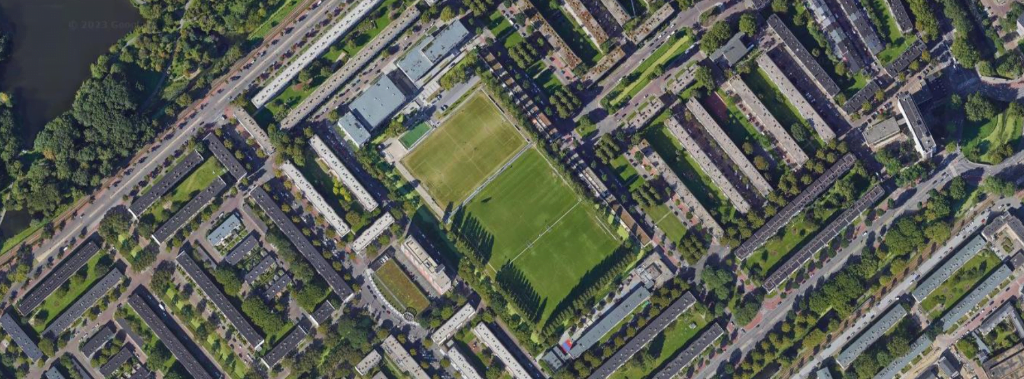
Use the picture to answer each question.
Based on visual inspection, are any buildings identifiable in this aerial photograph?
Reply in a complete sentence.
Yes, the image includes a building.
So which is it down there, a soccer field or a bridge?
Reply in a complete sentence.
This aerial view contains a soccer field.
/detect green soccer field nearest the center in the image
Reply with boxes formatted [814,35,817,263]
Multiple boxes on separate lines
[453,147,581,280]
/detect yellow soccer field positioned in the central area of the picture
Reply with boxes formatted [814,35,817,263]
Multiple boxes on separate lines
[402,92,527,215]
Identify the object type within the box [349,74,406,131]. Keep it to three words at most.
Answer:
building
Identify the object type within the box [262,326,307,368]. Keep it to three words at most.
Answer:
building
